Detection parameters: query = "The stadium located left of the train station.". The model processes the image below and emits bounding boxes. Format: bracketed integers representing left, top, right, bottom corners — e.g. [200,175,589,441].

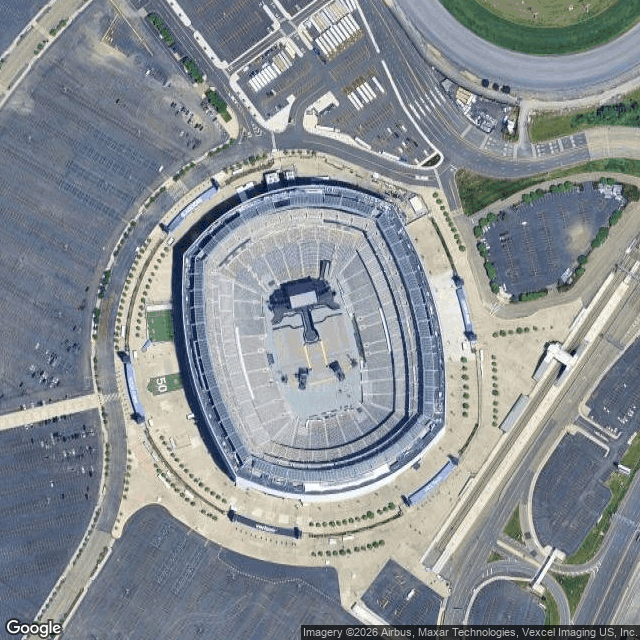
[181,184,446,503]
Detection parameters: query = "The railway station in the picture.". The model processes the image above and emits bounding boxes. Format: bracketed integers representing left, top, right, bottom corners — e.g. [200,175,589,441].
[534,337,589,386]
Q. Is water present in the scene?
No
